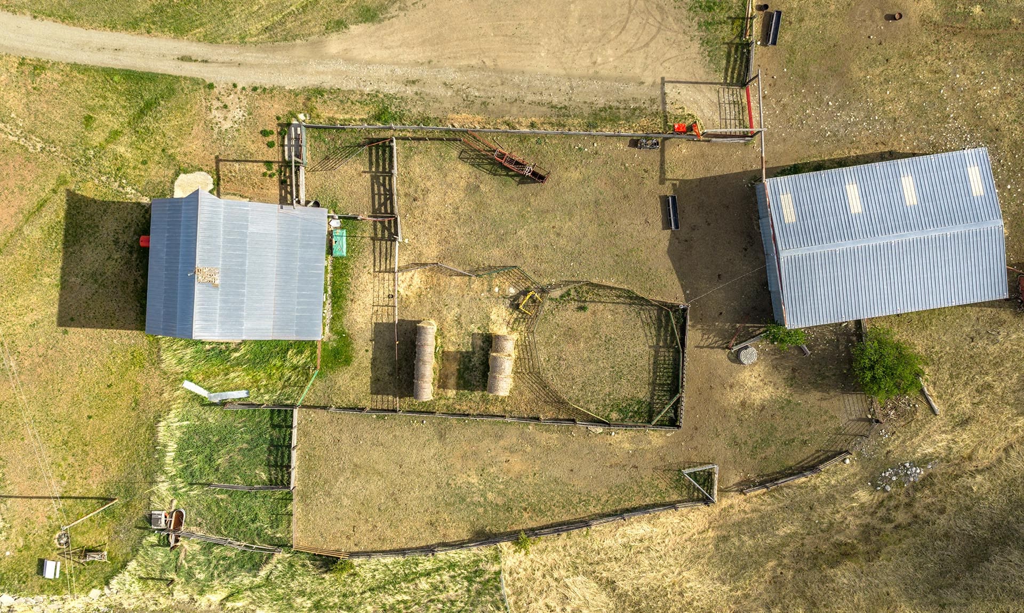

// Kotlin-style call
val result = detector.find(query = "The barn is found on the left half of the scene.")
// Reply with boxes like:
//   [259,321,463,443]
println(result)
[146,184,334,341]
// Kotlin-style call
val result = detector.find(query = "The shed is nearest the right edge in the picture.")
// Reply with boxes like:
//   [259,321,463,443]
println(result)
[755,148,1008,328]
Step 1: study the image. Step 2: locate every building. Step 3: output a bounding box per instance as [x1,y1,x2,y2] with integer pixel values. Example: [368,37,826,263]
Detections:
[146,184,334,341]
[755,148,1008,328]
